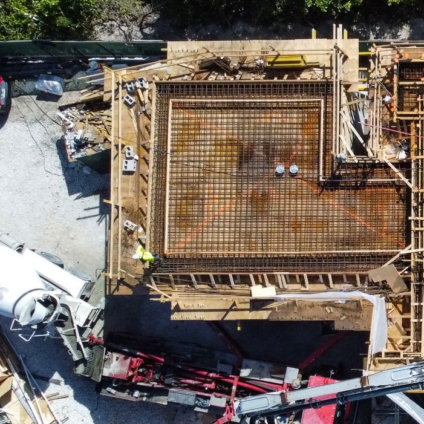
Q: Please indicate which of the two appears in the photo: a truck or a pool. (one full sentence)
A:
The one in the frame is a truck.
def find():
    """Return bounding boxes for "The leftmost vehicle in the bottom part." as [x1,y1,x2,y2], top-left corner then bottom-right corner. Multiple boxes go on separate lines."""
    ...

[0,229,108,366]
